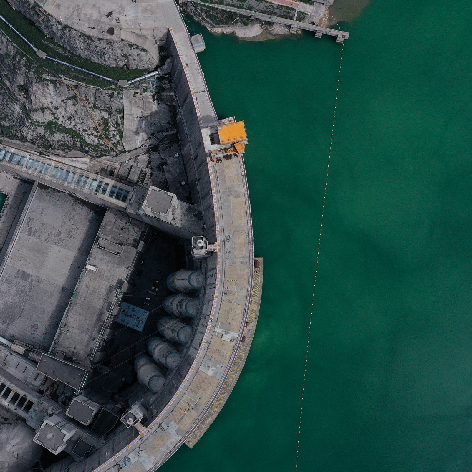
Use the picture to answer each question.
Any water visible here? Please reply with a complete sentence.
Yes, some water is visible.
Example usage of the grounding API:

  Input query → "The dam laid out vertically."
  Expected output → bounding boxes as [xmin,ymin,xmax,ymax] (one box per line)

[29,0,264,472]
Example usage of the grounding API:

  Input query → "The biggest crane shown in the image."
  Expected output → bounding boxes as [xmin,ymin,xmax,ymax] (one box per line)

[201,119,249,164]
